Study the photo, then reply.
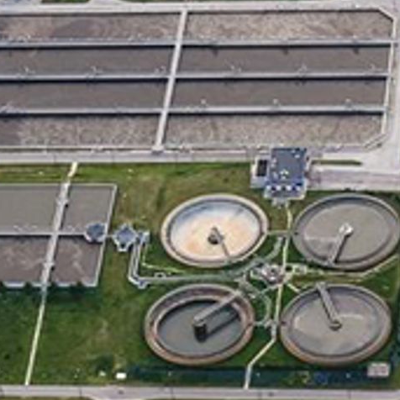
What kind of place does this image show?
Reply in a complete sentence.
This looks like an industrial area.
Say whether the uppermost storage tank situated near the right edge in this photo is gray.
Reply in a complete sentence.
Yes, the uppermost storage tank situated near the right edge appears gray.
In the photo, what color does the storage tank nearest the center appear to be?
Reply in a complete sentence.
From above, the storage tank nearest the center appears white.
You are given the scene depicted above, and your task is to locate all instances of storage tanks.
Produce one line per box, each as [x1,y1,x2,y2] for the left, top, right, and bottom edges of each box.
[161,194,269,270]
[292,194,400,272]
[279,283,392,367]
[144,285,255,366]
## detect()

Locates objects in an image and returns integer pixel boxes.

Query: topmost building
[266,148,308,206]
